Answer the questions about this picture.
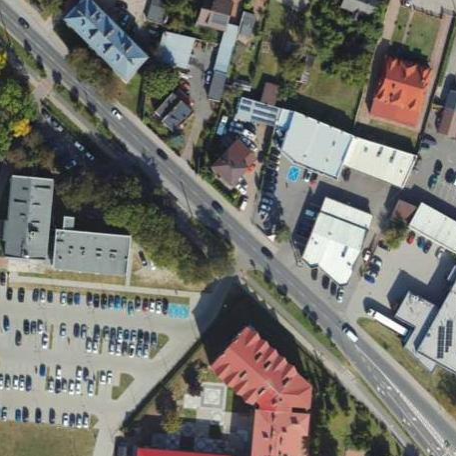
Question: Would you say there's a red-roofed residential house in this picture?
Yes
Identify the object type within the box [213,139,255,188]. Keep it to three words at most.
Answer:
house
